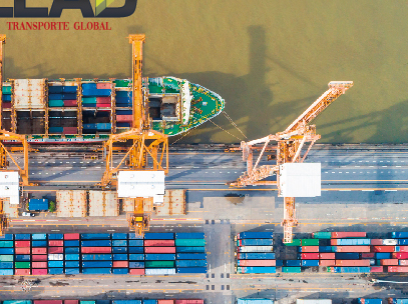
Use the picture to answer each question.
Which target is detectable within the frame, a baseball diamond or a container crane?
container crane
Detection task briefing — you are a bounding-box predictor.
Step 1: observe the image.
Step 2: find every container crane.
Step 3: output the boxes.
[228,76,356,245]
[0,34,42,234]
[92,34,170,234]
